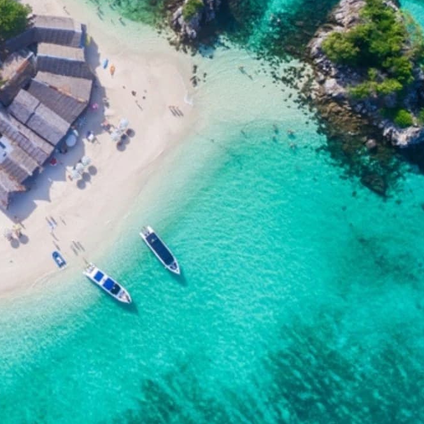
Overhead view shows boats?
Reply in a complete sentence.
Yes, the photo shows a boat.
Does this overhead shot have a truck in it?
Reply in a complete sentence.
No, this view has no truck in it.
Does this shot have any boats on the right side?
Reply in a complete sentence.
No, the scene shows no boat on the right side.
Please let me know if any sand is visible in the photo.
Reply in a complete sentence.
Yes, there's sand in this view.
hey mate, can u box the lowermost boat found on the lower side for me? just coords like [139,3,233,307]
[80,262,131,305]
